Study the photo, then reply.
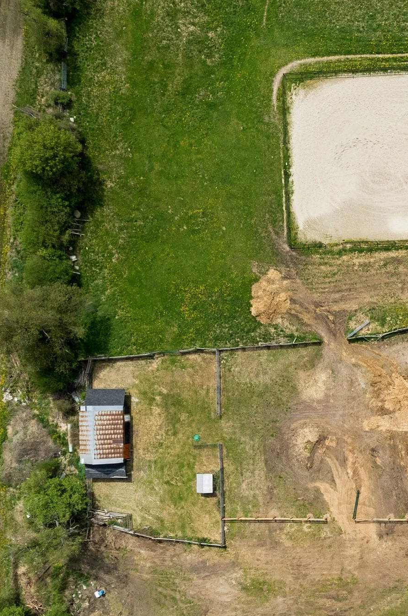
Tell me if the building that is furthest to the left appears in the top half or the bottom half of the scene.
bottom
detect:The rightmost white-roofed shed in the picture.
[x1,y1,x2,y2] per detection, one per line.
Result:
[197,473,216,493]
